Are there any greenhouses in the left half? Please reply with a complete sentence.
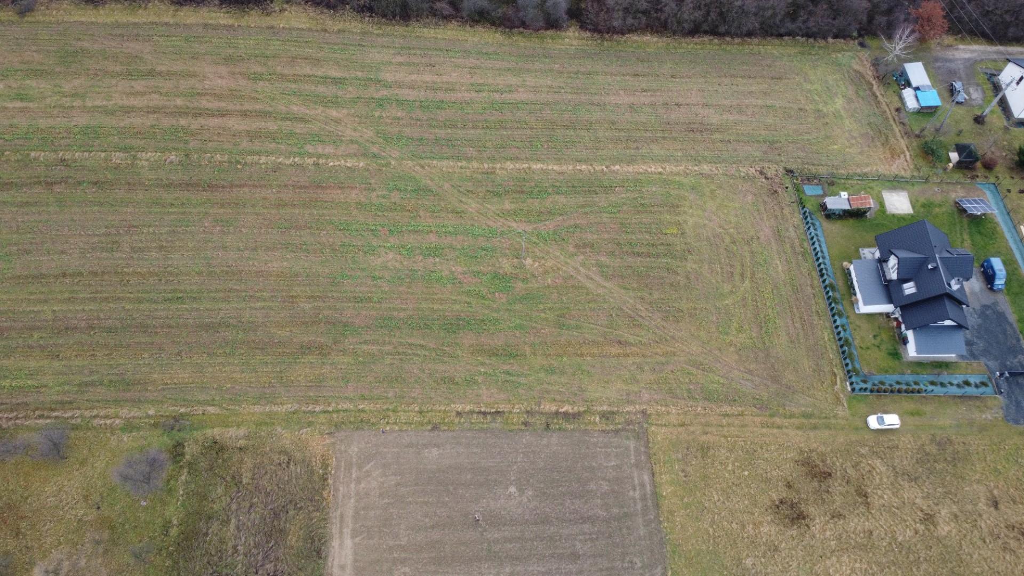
No, there's no greenhouse to be seen in the left half.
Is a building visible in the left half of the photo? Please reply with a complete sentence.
No, looking in the left half of the photo, there is no building.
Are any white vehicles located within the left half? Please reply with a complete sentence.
No, I can find no white vehicle within the left half.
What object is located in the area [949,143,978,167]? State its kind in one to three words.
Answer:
building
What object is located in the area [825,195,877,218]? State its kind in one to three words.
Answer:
shed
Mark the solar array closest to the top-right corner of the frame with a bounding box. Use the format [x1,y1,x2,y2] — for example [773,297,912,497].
[956,198,997,220]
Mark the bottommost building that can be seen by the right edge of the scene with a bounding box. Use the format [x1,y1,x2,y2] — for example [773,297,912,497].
[850,220,976,356]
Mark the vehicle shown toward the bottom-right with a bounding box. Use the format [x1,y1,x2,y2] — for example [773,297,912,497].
[868,413,904,429]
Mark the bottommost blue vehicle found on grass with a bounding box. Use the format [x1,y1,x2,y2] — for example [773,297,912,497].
[982,257,1009,293]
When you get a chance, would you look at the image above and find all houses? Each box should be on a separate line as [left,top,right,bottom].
[1000,59,1024,117]
[850,220,976,356]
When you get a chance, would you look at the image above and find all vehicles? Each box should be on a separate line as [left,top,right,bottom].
[868,413,904,429]
[982,257,1009,293]
[948,81,967,105]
